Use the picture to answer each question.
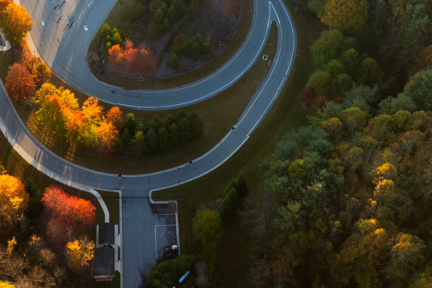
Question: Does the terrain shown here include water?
No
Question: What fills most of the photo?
trees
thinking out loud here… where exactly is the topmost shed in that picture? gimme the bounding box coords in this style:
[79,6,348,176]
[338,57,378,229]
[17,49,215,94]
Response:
[98,223,116,250]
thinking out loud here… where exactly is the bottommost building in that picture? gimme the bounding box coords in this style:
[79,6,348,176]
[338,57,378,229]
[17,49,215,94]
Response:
[91,247,115,285]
